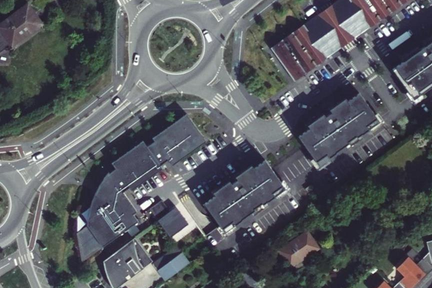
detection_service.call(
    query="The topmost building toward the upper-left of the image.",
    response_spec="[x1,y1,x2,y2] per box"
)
[0,2,44,50]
